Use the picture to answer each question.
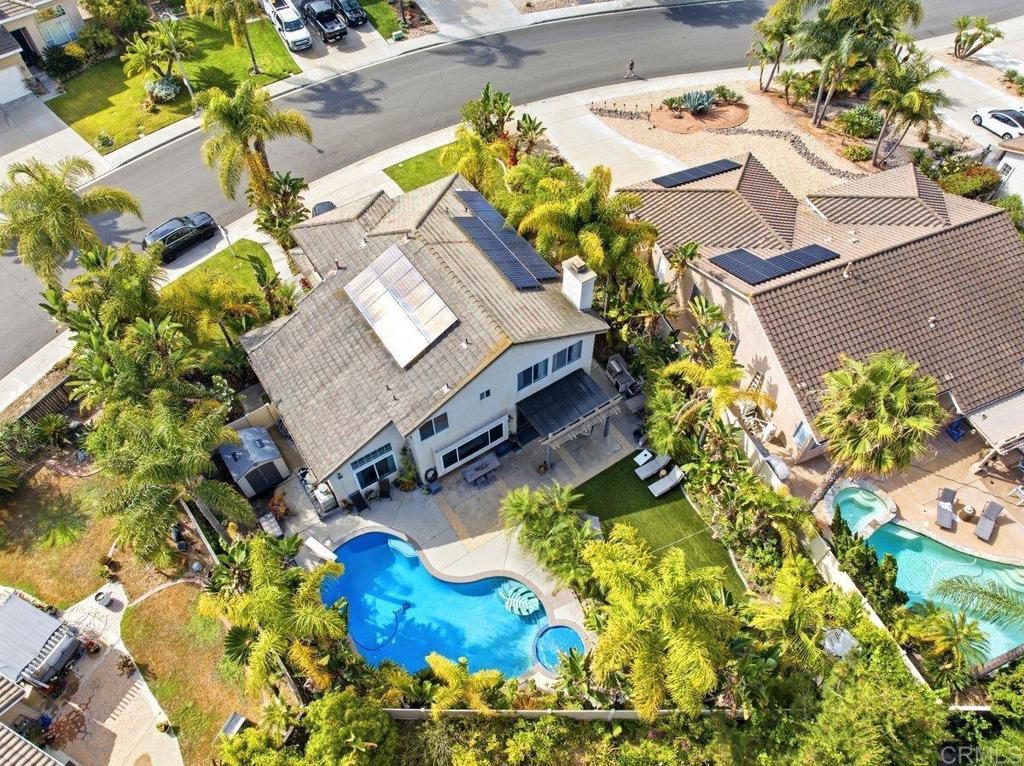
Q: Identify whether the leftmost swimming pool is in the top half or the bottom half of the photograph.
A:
bottom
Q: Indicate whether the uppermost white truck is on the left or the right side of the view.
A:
left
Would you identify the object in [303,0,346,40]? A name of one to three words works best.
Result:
truck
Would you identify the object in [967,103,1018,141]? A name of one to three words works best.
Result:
car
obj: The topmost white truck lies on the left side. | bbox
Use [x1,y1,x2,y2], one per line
[267,3,311,50]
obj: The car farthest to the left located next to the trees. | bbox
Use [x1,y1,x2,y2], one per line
[140,210,218,264]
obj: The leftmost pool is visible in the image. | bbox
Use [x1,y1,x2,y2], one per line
[316,527,552,687]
